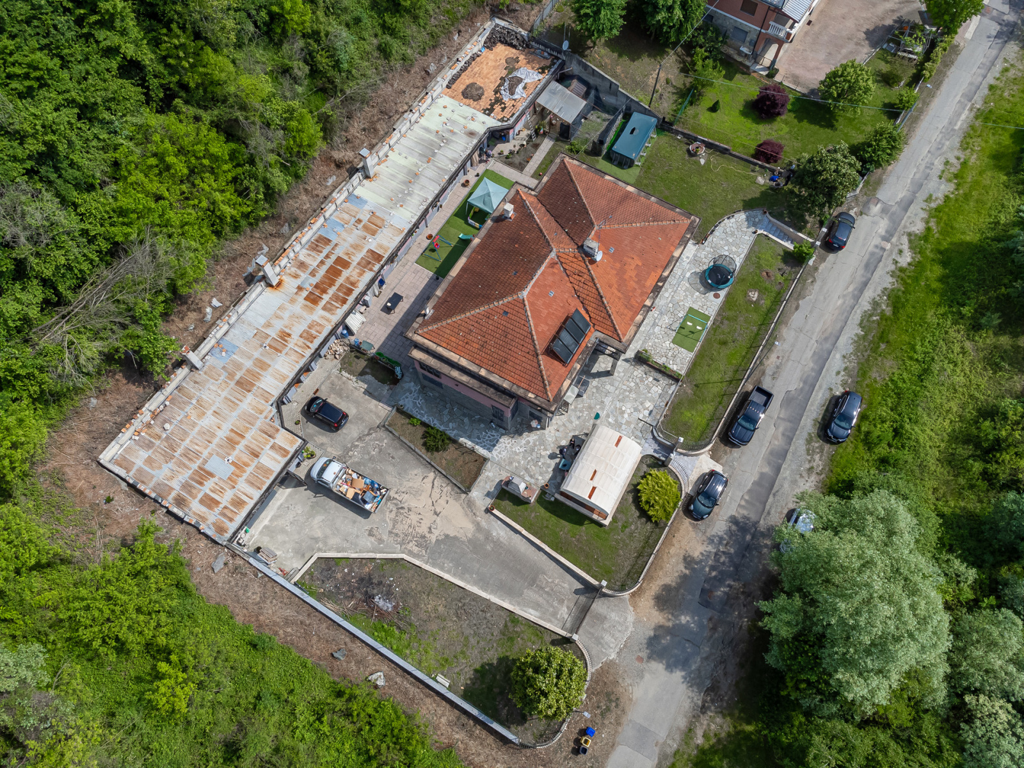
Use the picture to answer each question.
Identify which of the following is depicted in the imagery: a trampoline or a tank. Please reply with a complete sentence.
I can see a trampoline in this picture.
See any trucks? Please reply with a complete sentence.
Yes, the frame does contain a truck.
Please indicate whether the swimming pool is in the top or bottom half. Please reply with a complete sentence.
You can find the swimming pool in the top half.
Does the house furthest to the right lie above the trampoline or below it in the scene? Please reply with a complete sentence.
Looking at the scene, the house furthest to the right is located above the trampoline.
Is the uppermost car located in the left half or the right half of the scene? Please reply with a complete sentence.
It is on the right.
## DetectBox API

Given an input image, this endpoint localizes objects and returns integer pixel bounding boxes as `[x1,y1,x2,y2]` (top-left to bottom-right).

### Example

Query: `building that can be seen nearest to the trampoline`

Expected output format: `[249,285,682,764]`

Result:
[408,152,700,432]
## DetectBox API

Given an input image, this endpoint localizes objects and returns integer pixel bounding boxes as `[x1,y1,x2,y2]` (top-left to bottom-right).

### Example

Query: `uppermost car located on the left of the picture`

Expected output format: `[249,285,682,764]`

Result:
[306,399,349,430]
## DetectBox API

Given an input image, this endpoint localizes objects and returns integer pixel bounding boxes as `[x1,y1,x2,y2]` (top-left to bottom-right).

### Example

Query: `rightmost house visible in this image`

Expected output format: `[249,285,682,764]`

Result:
[701,0,812,74]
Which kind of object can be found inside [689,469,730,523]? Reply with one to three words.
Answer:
car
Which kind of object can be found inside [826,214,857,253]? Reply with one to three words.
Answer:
car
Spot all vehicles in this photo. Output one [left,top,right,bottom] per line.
[306,399,349,430]
[310,456,390,514]
[826,214,857,253]
[728,384,777,449]
[826,390,865,444]
[689,469,730,523]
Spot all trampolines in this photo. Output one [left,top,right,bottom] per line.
[706,255,740,291]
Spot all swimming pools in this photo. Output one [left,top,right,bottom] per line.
[611,112,657,167]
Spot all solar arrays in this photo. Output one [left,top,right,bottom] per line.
[541,308,592,365]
